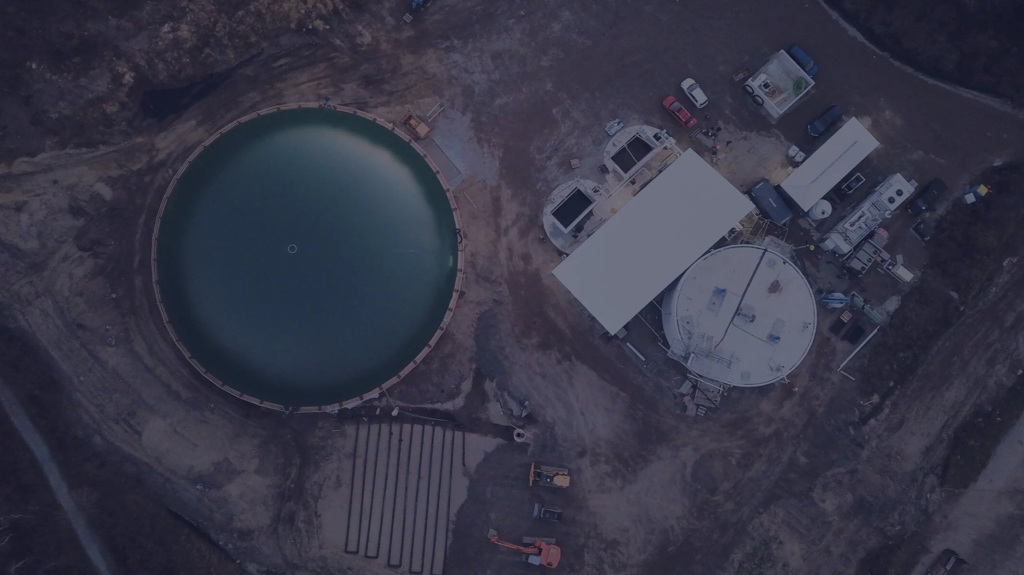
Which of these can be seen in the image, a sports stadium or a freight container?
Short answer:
freight container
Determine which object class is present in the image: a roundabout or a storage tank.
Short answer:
storage tank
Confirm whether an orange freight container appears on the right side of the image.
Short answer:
No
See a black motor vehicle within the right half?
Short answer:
Yes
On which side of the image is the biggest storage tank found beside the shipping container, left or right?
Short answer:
right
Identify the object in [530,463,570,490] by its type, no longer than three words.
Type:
work vehicle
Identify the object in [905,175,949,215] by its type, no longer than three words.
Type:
truck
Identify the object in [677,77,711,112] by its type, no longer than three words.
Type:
car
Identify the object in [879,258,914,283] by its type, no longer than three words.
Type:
work vehicle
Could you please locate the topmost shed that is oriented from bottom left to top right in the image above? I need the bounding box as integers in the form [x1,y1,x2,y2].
[773,116,880,211]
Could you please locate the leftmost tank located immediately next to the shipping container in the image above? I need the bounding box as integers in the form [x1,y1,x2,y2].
[662,235,817,387]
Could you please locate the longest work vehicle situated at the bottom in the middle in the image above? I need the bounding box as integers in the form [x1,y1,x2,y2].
[488,528,561,568]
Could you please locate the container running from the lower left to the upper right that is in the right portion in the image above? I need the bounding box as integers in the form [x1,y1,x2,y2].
[811,172,918,259]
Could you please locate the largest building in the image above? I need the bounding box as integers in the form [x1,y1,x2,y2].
[552,147,756,336]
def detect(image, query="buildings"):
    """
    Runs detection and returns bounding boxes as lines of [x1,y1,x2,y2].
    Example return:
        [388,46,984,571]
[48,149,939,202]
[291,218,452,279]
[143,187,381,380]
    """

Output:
[552,147,756,336]
[773,116,880,211]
